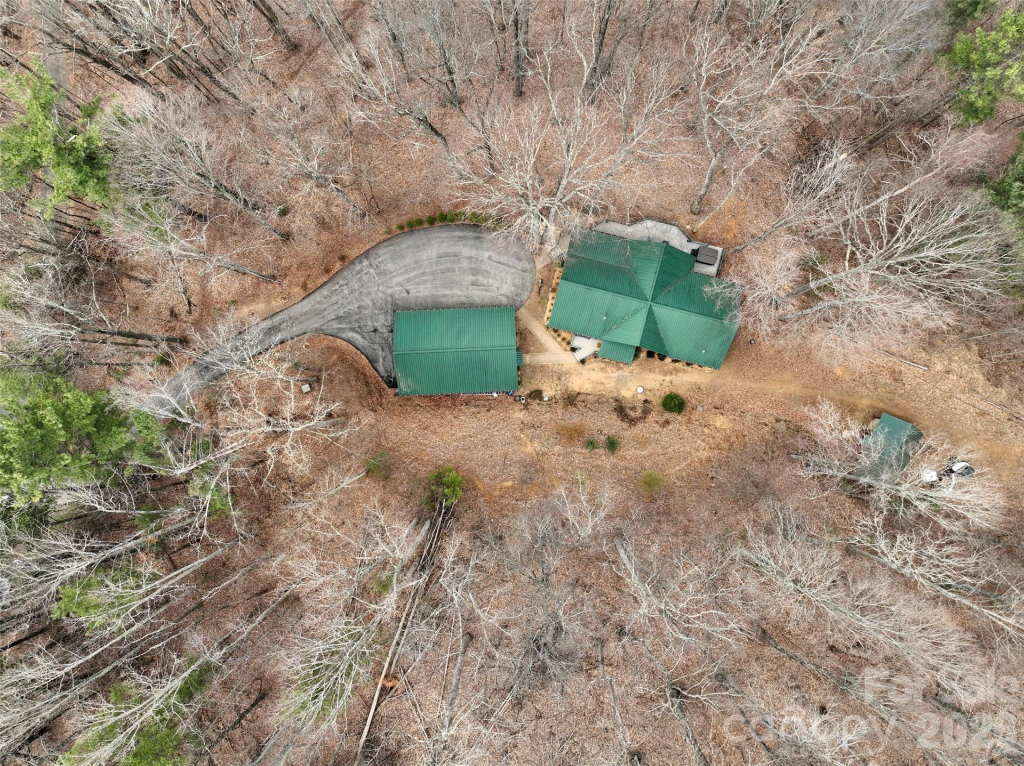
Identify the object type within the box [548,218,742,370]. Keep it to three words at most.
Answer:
house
